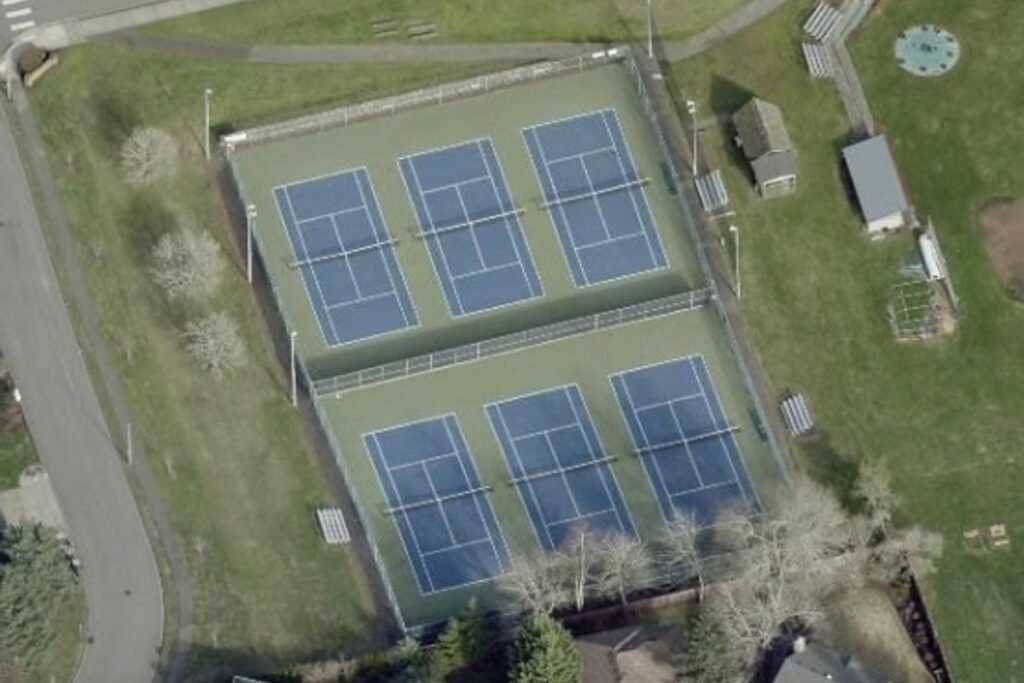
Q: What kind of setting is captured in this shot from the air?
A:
sports ground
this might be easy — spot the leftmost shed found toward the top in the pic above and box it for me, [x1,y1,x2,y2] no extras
[732,97,800,202]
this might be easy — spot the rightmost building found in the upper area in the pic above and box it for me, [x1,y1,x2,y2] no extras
[838,135,911,244]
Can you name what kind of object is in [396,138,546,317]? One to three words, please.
tennis court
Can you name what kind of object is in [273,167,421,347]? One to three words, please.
tennis court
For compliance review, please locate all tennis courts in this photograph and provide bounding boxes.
[484,383,636,568]
[396,138,546,317]
[273,167,421,347]
[520,108,671,287]
[608,354,762,538]
[362,412,513,597]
